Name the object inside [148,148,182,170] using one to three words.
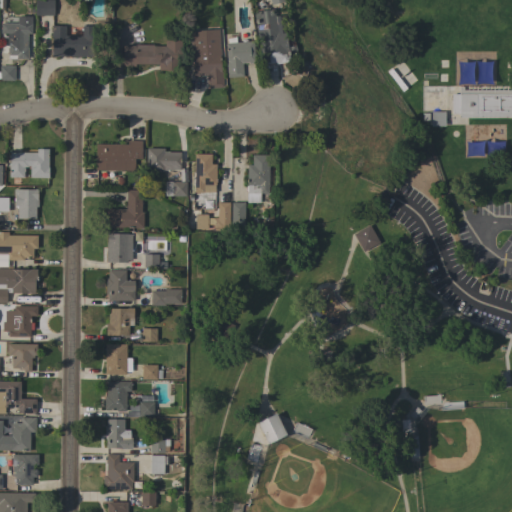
house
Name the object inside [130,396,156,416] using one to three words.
building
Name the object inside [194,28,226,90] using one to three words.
house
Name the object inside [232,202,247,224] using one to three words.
building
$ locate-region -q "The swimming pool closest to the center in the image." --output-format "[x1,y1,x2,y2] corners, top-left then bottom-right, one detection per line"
[142,276,164,288]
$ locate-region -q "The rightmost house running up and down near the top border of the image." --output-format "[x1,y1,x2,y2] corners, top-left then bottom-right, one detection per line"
[268,9,290,62]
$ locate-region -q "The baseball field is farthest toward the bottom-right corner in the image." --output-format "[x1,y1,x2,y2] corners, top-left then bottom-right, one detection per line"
[422,409,512,512]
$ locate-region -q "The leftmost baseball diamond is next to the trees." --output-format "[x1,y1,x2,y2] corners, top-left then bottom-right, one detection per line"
[262,438,400,512]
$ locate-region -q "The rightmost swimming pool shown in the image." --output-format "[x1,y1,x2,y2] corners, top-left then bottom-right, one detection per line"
[239,7,251,29]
